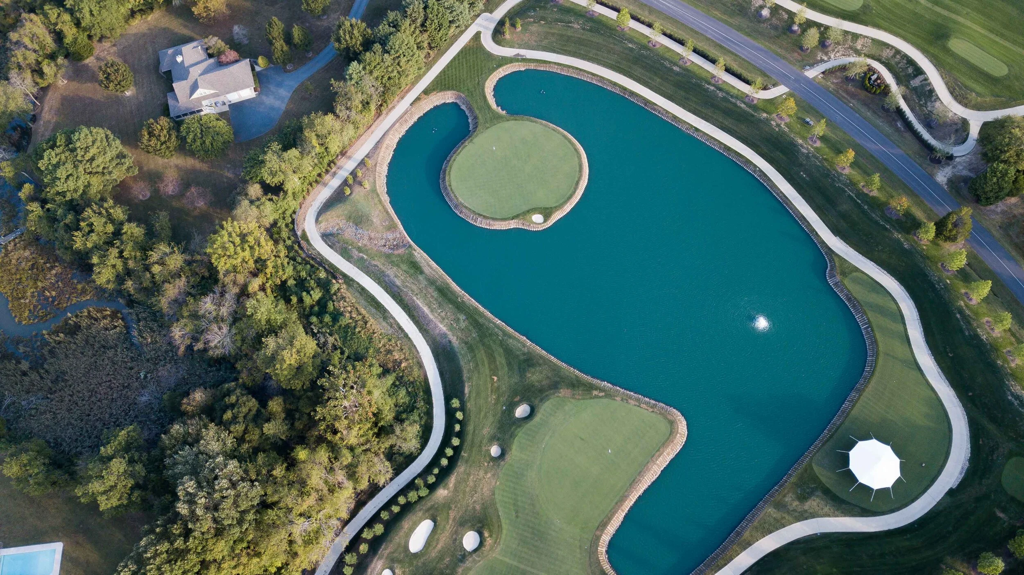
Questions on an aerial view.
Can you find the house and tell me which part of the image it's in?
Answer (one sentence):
The house appears toward the top left of the photo.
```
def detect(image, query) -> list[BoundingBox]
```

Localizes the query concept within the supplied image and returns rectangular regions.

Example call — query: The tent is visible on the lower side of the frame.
[836,433,905,501]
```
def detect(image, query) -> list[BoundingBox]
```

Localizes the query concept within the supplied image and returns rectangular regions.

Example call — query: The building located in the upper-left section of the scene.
[159,41,257,124]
